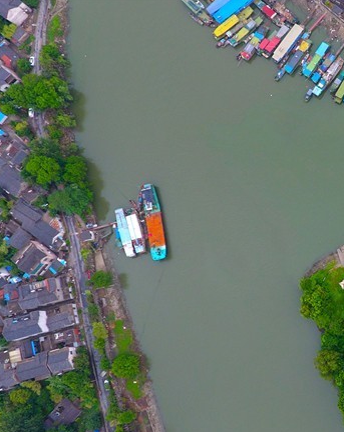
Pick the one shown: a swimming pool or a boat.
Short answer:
boat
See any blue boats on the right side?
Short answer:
Yes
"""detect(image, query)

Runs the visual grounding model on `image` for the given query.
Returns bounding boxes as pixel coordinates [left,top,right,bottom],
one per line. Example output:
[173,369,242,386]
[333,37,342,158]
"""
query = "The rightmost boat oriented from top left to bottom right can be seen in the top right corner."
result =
[273,4,299,27]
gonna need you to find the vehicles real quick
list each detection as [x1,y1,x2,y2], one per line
[99,369,108,378]
[30,57,36,67]
[29,109,35,119]
[104,377,110,387]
